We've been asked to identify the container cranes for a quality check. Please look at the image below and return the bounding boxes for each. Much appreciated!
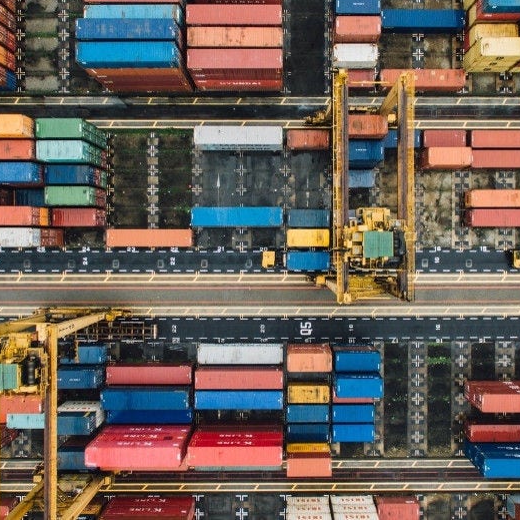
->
[299,70,415,304]
[0,308,135,520]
